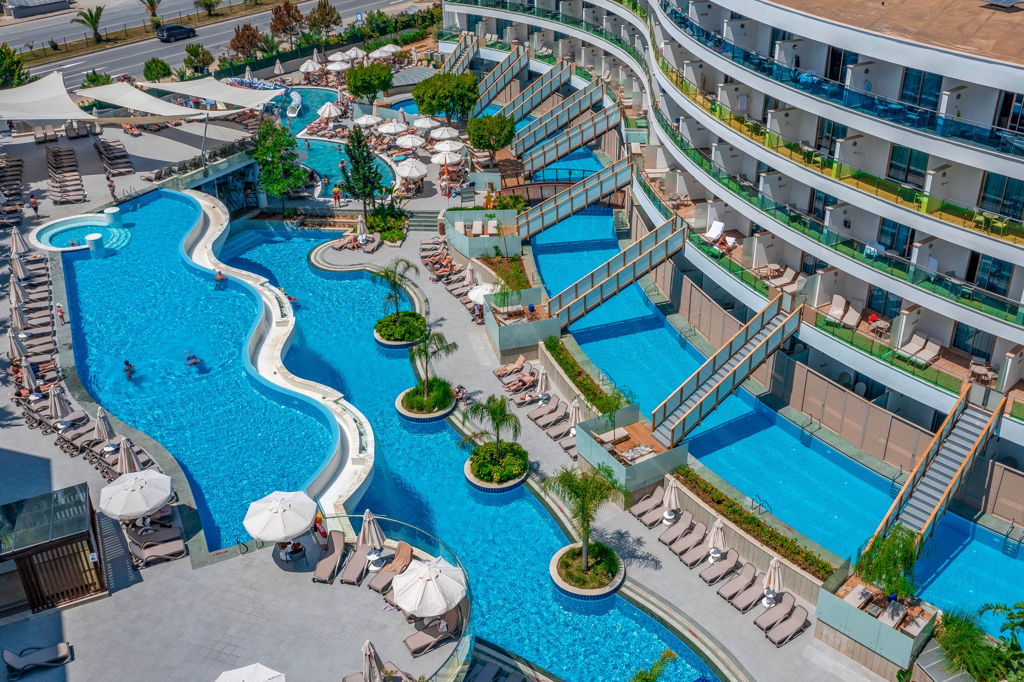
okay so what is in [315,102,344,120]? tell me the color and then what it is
white umbrella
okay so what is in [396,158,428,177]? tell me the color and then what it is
white umbrella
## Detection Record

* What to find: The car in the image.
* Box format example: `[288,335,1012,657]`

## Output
[151,20,202,43]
